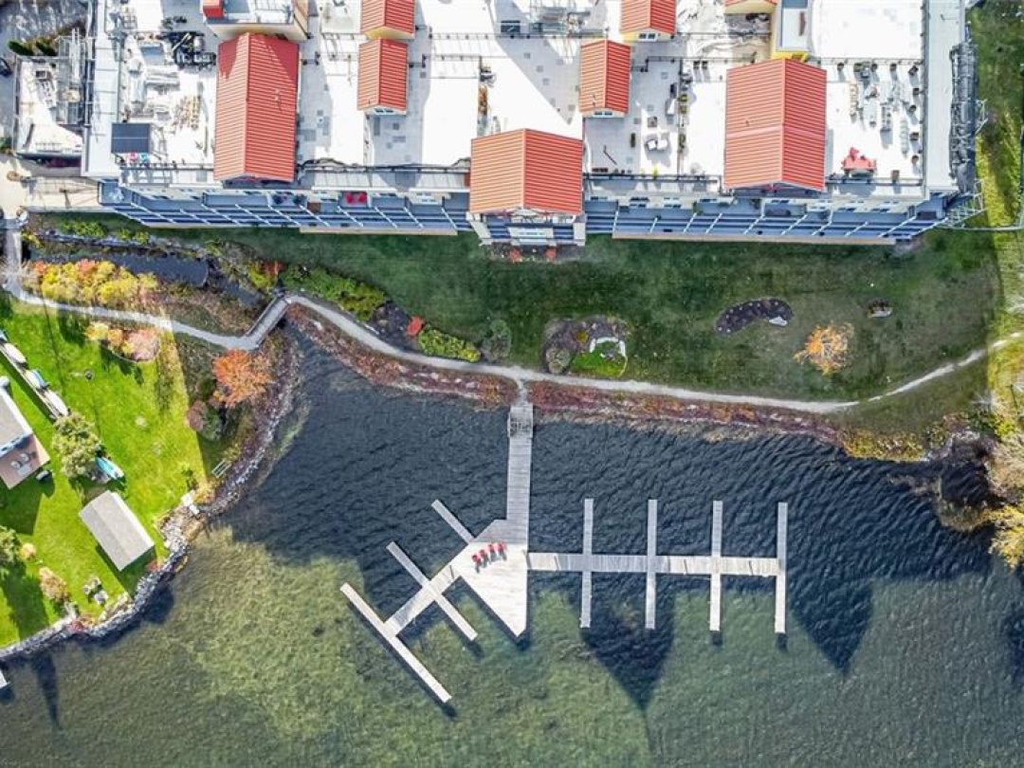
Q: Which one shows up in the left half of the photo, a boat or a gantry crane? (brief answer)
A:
boat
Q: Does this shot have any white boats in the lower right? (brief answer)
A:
No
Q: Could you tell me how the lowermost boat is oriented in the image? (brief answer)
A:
at an angle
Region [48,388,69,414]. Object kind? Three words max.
boat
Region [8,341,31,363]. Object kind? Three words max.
boat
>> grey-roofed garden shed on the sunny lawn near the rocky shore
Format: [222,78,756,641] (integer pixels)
[78,490,159,571]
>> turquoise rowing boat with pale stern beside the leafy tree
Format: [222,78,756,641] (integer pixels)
[95,457,122,480]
